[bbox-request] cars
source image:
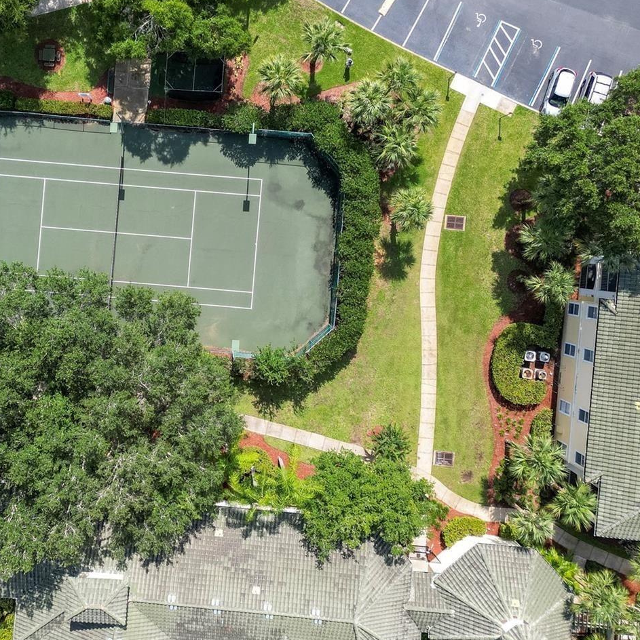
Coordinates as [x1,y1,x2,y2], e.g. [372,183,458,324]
[580,67,627,121]
[544,65,585,118]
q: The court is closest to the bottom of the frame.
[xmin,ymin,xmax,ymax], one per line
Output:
[0,117,336,352]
